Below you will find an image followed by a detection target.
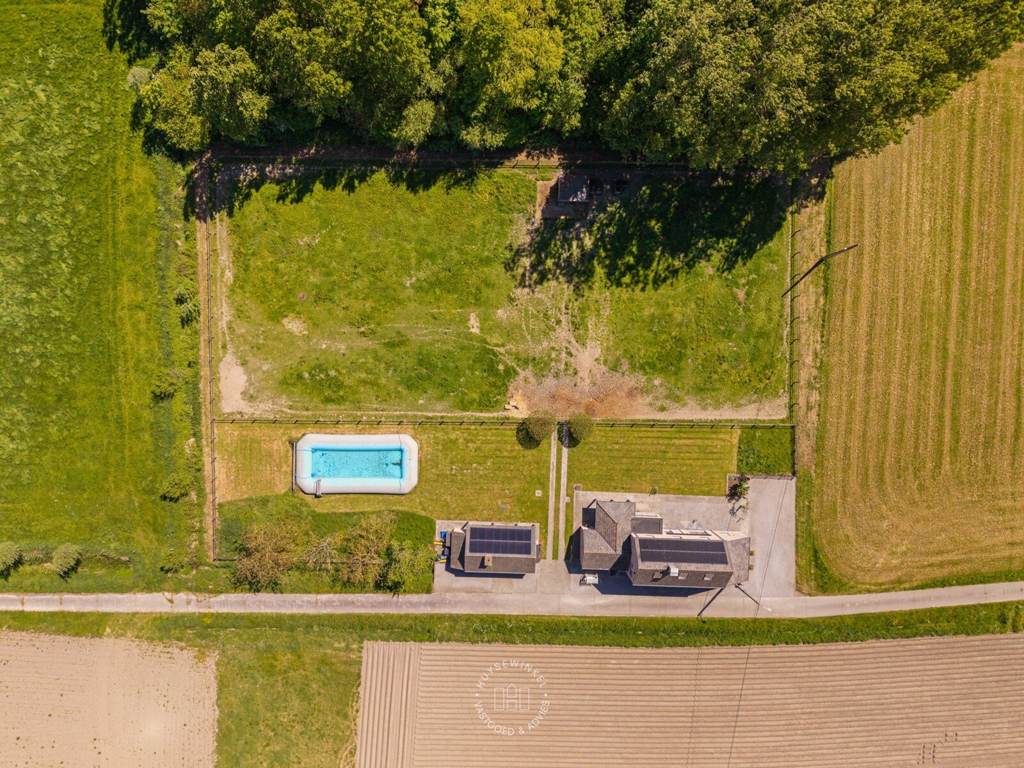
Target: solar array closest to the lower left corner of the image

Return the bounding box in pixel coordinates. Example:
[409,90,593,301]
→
[469,527,531,555]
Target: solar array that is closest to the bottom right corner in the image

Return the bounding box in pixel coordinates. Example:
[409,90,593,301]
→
[639,539,728,565]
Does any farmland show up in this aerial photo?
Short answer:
Yes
